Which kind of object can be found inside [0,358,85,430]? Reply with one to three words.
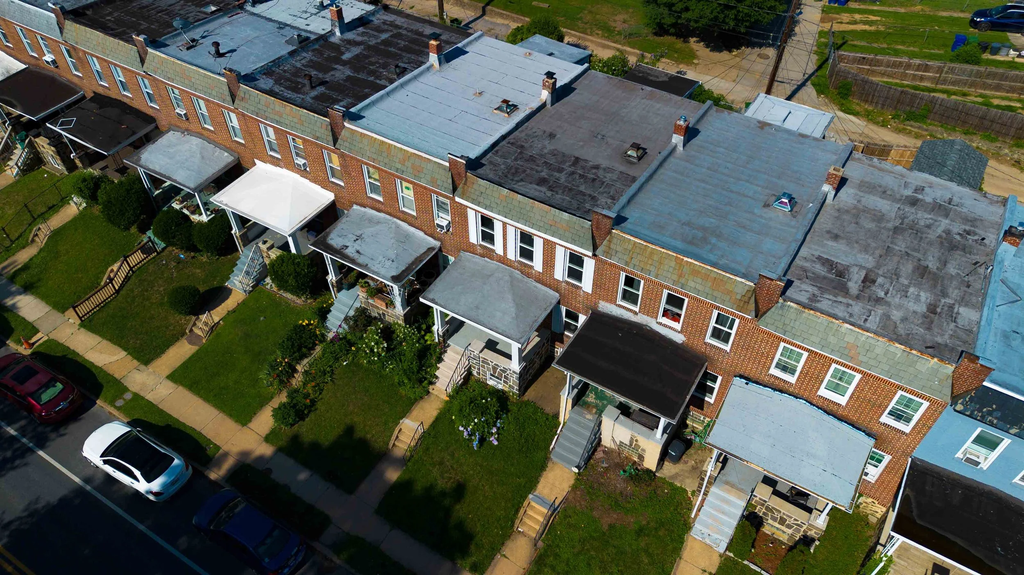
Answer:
car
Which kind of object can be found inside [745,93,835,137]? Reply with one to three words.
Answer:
building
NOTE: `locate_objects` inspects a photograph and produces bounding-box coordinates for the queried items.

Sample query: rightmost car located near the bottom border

[195,490,310,575]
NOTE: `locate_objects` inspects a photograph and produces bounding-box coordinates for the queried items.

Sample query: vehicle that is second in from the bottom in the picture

[87,423,192,506]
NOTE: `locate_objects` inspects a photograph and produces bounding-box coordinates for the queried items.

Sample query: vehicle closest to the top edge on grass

[969,4,1024,42]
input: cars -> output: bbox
[195,490,310,575]
[0,358,85,430]
[969,4,1024,42]
[87,423,192,506]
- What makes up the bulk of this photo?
buildings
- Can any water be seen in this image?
No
